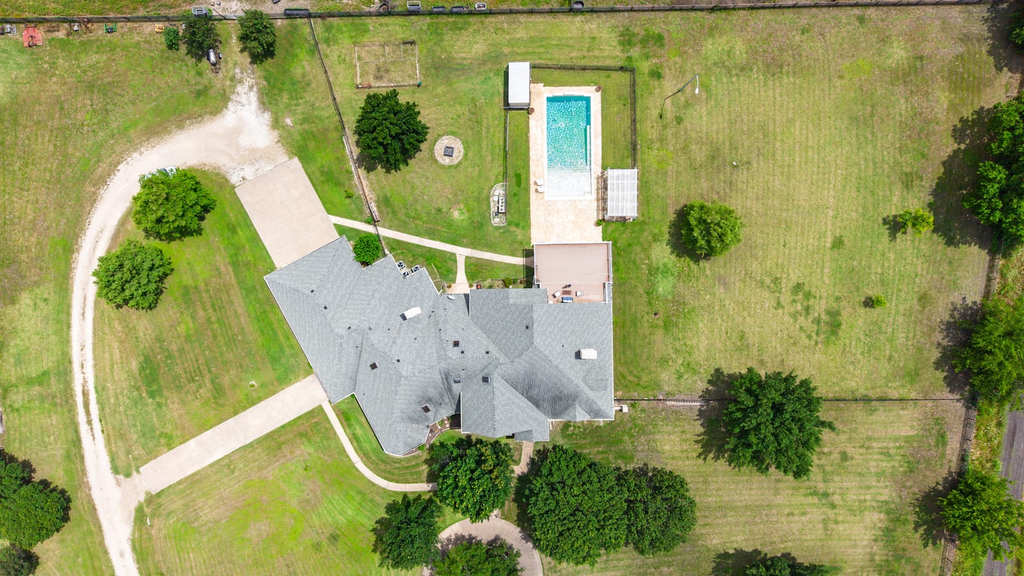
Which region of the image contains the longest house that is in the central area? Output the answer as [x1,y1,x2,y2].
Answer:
[264,234,614,456]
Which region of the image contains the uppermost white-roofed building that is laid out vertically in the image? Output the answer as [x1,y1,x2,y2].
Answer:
[505,61,530,112]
